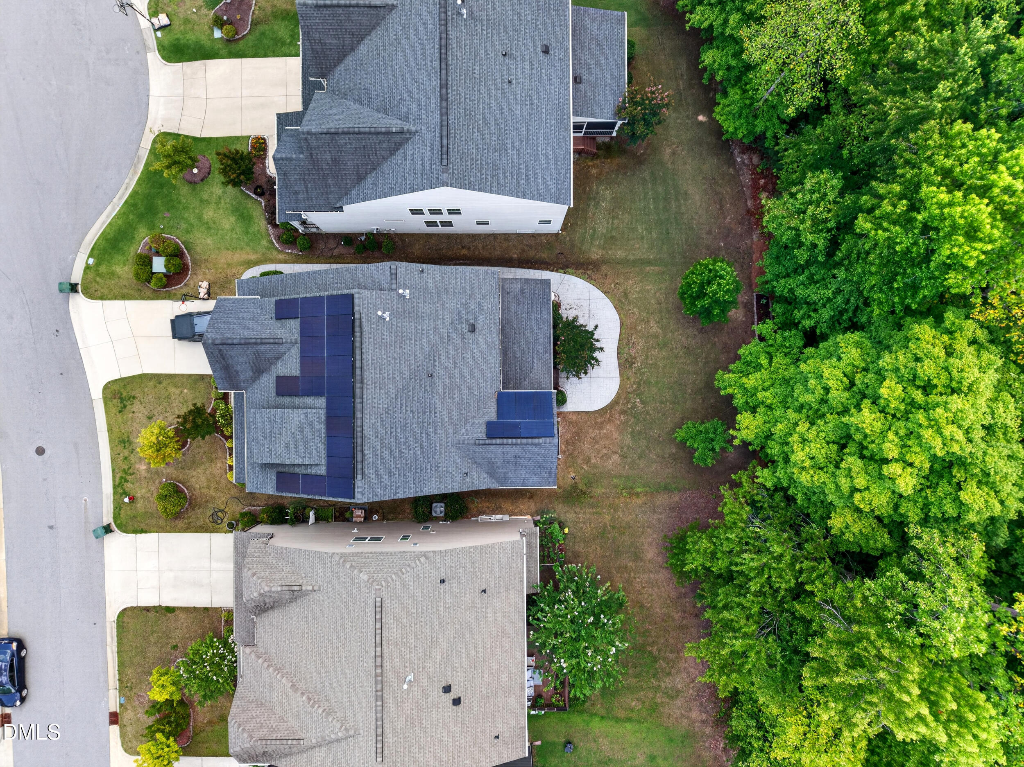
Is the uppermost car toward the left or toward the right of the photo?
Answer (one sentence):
The uppermost car is on the left side of the image.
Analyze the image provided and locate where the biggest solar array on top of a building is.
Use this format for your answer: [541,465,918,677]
[273,294,354,499]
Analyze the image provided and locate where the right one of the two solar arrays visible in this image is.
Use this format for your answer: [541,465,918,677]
[485,391,556,437]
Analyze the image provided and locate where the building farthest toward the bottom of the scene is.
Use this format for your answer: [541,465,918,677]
[227,521,541,767]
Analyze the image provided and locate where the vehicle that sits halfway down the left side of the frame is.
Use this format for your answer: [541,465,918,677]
[170,312,212,345]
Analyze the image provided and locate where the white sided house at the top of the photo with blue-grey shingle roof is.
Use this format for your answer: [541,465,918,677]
[273,0,627,241]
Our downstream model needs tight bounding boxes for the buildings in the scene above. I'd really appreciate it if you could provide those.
[273,0,627,241]
[227,521,541,767]
[202,261,558,502]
